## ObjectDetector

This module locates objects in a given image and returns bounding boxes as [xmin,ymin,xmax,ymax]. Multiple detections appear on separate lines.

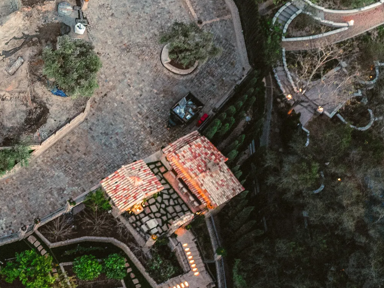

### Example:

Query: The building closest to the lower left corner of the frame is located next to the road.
[93,152,168,220]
